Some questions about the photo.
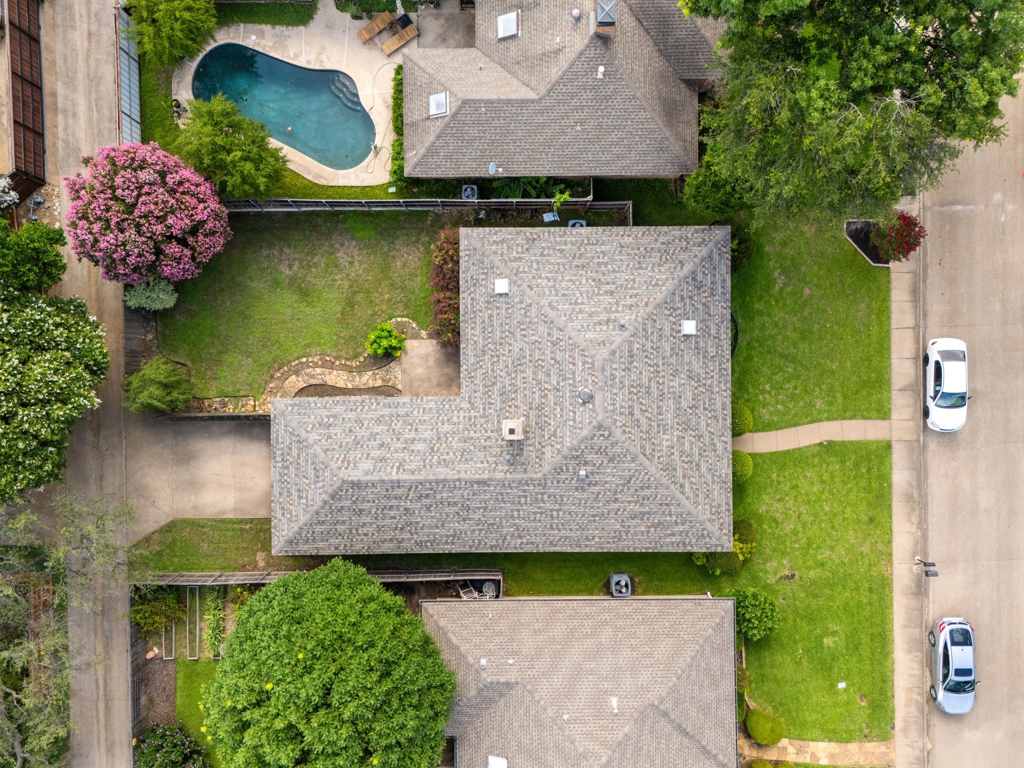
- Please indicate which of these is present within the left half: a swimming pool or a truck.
swimming pool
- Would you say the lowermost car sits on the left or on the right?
right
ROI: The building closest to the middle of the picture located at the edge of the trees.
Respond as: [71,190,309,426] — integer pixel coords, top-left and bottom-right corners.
[271,226,733,555]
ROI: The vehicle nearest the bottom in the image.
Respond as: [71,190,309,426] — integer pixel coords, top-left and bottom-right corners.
[926,614,981,712]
